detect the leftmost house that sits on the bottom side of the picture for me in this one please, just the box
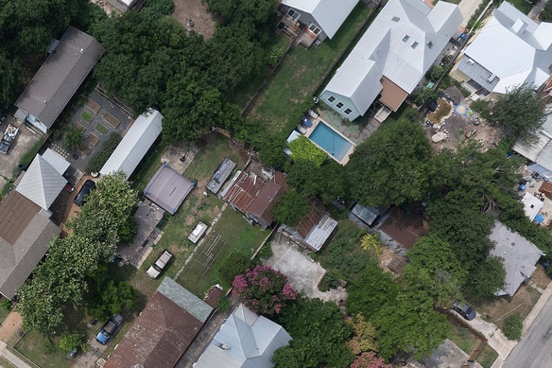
[0,147,70,300]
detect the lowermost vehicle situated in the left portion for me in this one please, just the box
[95,310,125,347]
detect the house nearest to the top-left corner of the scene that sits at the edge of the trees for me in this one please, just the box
[13,27,103,134]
